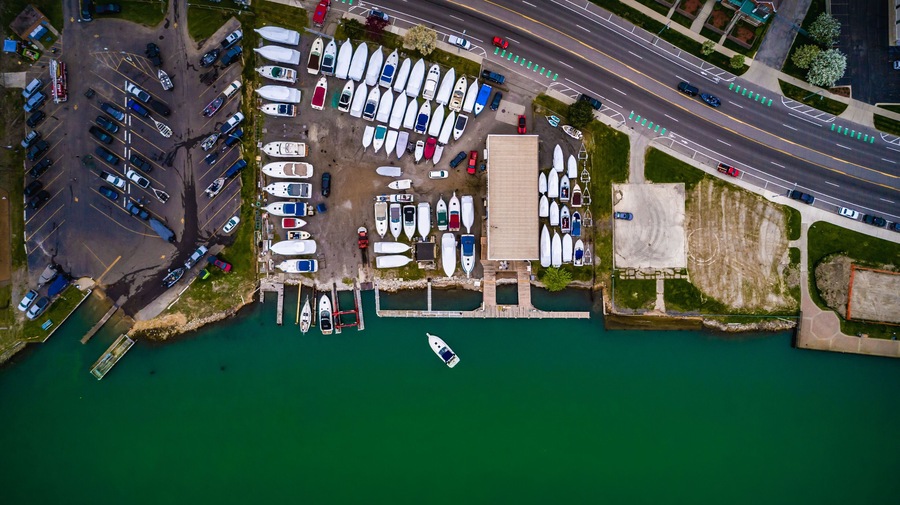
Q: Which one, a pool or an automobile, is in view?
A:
automobile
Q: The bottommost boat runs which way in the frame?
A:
diagonally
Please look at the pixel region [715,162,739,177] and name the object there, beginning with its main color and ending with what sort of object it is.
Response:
red vehicle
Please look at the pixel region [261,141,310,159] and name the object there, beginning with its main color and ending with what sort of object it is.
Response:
white boat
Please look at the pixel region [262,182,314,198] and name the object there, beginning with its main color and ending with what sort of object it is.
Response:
white boat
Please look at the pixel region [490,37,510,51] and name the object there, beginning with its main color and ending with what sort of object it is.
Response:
red car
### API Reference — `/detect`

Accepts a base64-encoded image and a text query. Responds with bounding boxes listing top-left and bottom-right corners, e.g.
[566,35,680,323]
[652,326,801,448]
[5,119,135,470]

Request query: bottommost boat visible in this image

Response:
[426,333,460,367]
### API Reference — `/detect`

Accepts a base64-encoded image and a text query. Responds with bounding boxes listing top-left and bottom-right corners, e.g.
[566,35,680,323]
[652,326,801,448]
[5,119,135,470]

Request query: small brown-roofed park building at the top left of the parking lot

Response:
[9,5,57,43]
